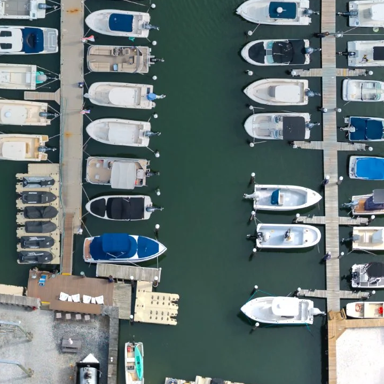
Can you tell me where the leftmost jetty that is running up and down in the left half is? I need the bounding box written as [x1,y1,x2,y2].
[17,163,60,264]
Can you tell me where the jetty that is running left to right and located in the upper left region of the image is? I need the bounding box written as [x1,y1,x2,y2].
[24,91,59,104]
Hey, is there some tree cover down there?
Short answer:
No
